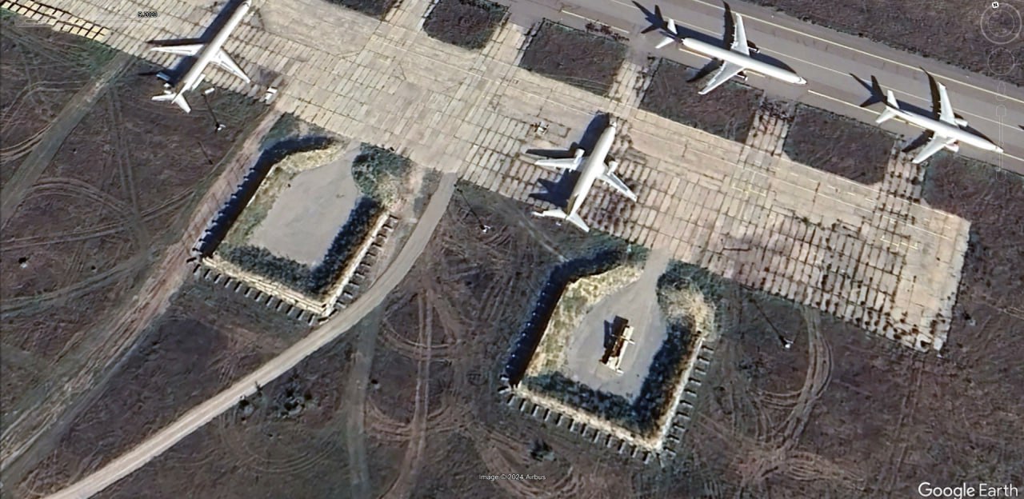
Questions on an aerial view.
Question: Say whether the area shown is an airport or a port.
airport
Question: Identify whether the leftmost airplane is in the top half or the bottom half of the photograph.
top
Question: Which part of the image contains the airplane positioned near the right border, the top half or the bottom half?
top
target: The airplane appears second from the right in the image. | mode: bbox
[656,14,808,93]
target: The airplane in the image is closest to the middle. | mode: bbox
[533,121,637,232]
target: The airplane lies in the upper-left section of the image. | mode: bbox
[148,0,251,111]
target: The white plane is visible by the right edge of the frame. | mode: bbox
[878,81,1005,163]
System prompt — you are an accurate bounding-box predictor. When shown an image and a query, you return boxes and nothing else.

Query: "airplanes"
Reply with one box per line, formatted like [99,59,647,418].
[878,81,1005,163]
[533,121,637,232]
[148,0,251,111]
[656,14,808,93]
